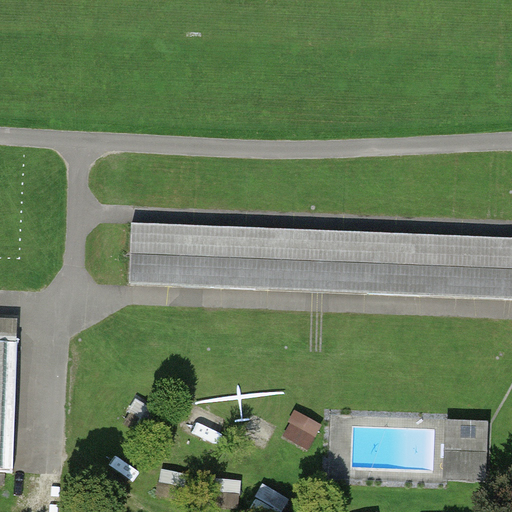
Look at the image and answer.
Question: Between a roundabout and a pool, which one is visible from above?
pool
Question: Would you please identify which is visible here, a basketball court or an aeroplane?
aeroplane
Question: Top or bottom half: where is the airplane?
bottom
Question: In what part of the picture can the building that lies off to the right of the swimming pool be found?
bottom right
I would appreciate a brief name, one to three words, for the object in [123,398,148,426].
building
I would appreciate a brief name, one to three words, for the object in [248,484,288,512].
shed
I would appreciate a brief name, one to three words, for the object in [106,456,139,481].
camper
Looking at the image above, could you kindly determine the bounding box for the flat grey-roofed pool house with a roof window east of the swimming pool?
[442,419,488,483]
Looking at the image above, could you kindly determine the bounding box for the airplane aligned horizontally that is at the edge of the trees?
[196,384,285,420]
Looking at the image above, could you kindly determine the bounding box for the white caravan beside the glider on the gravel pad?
[188,422,222,444]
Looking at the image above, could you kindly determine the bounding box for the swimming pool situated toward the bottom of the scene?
[350,426,435,477]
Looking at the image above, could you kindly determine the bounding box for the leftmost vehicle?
[13,470,25,496]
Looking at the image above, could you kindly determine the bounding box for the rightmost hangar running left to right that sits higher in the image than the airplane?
[126,222,512,300]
